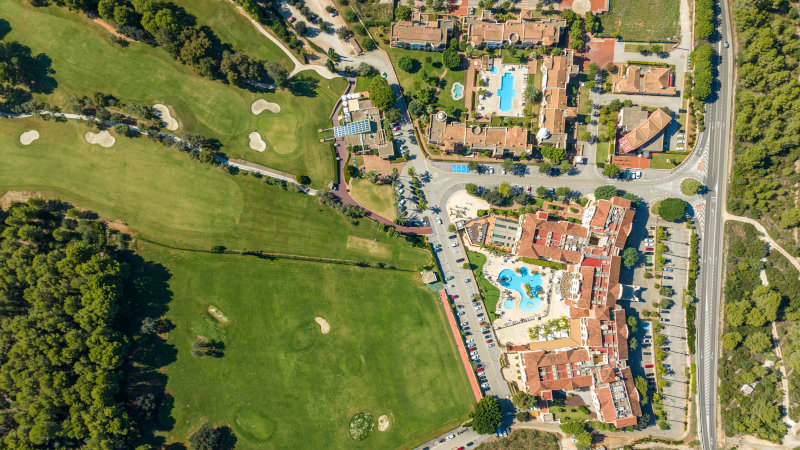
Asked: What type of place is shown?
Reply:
golf course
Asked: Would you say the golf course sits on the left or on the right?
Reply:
left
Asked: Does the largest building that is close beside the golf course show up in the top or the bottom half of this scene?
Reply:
bottom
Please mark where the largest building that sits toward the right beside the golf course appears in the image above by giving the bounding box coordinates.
[505,196,642,428]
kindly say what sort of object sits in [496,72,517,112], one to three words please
swimming pool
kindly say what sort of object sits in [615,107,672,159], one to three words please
house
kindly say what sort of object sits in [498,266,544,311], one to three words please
swimming pool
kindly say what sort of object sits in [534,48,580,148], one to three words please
building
